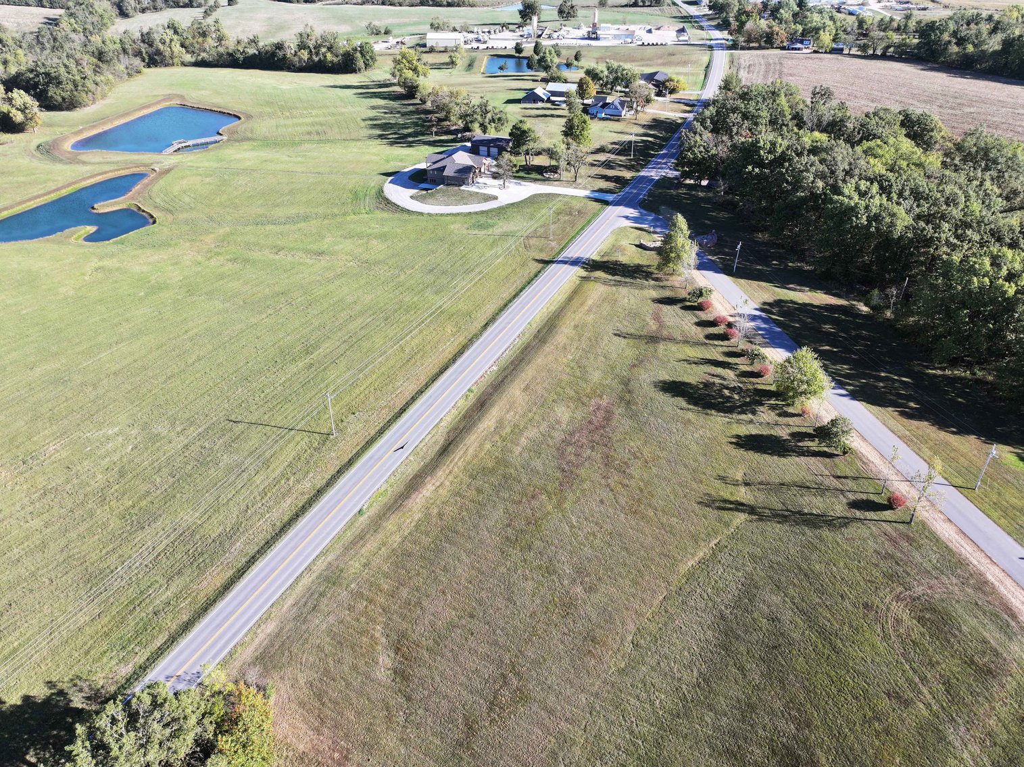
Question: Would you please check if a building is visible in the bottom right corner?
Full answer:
No, there's no building to be seen in the bottom right corner.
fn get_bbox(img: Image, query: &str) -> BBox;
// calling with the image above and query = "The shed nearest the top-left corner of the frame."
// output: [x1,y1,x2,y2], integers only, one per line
[425,35,463,49]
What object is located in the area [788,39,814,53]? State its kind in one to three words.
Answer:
house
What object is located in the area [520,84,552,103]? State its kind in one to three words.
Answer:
shed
